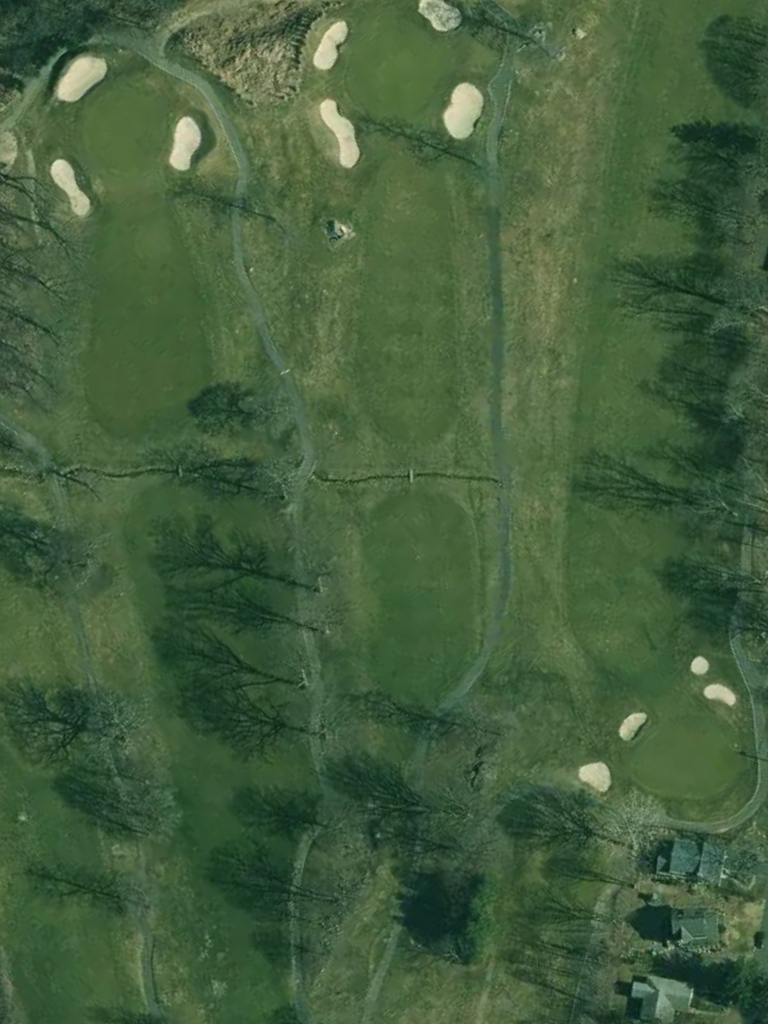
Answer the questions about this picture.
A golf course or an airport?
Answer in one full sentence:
This image shows a golf course.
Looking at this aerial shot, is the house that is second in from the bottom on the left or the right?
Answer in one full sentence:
The house that is second in from the bottom is on the right side of the image.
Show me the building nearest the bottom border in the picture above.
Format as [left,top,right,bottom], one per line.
[625,975,693,1024]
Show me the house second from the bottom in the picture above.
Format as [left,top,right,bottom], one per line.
[670,905,723,952]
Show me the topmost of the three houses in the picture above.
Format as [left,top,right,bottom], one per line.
[658,839,726,884]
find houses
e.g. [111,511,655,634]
[670,905,723,952]
[625,975,693,1024]
[658,839,726,884]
